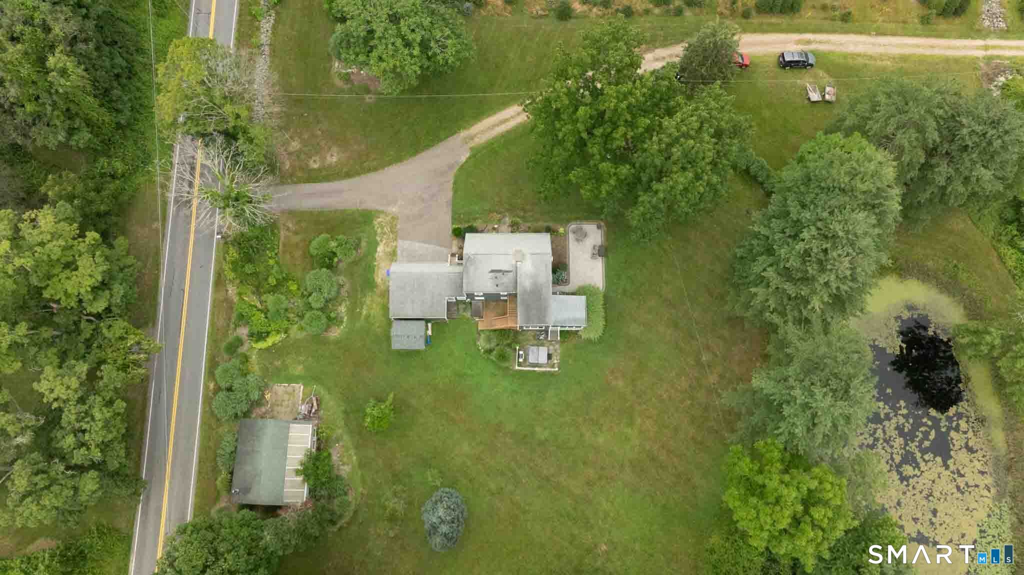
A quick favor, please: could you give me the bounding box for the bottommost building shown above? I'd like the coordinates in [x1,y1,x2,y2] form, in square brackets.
[230,419,319,506]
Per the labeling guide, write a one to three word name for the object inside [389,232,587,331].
house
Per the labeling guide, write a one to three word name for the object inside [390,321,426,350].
shed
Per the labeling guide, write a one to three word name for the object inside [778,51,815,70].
car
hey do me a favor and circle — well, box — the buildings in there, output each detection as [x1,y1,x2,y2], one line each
[230,419,319,506]
[389,232,587,331]
[390,321,426,350]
